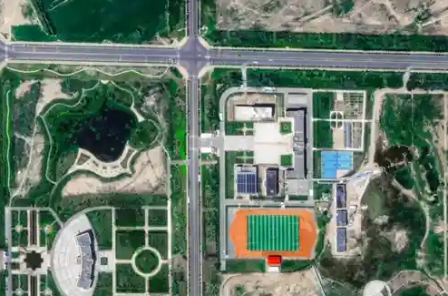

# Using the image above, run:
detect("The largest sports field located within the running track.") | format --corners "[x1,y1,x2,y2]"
[248,216,298,251]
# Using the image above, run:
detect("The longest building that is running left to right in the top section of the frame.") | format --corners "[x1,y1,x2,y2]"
[235,106,272,120]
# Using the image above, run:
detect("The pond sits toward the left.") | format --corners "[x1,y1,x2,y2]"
[79,106,133,162]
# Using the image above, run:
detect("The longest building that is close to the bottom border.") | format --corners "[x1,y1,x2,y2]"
[72,232,97,289]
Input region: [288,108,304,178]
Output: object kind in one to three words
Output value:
building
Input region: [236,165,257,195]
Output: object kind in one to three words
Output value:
building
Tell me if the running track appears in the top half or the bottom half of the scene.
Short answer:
bottom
